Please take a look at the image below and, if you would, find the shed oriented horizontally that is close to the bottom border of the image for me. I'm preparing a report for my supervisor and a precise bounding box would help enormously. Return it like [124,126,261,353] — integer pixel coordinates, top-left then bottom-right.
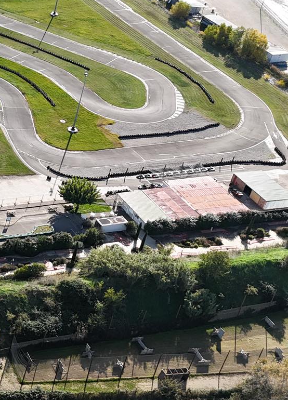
[157,368,190,385]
